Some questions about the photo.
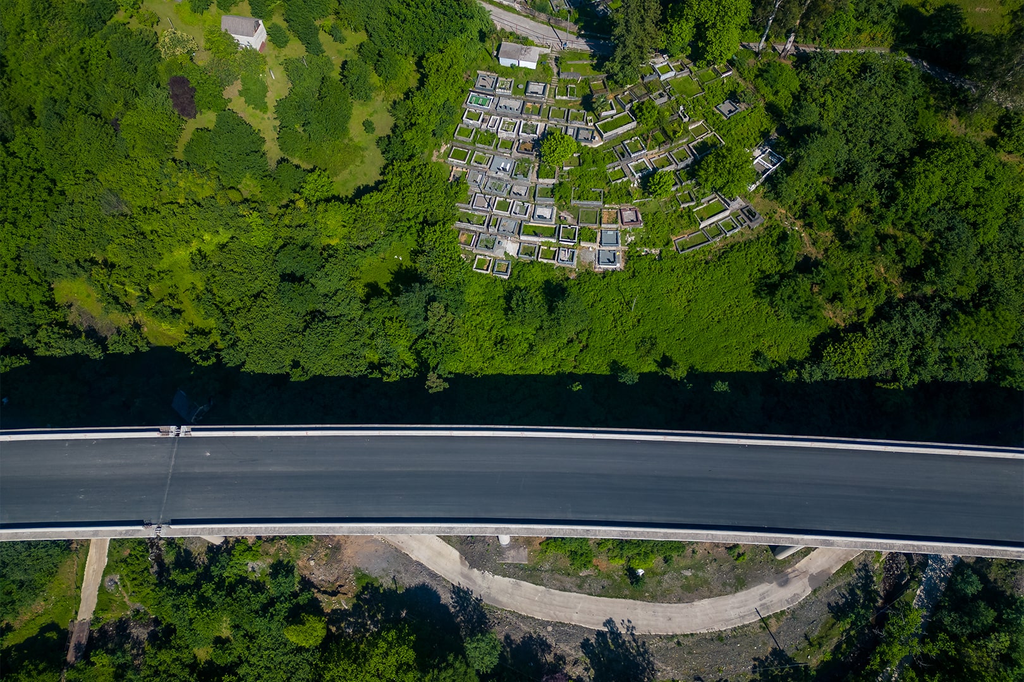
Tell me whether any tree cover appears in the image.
Yes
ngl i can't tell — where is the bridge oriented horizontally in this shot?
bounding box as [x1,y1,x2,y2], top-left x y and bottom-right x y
[0,425,1024,566]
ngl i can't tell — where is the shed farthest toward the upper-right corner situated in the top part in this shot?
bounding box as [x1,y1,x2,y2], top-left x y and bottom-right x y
[499,40,548,69]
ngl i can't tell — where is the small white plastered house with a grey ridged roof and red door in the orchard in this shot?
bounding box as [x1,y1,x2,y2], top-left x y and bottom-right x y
[222,16,264,49]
